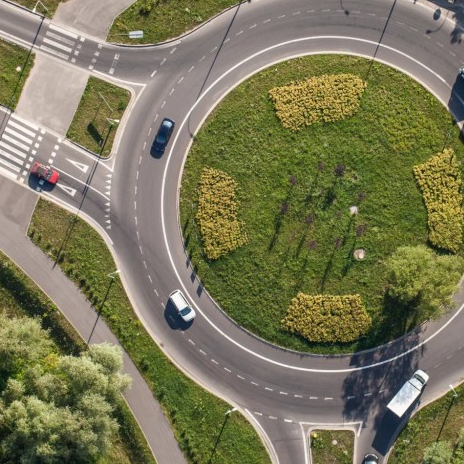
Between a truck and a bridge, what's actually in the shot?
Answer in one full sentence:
The one in the frame is a truck.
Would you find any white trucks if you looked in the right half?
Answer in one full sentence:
Yes, a white truck shows up in the right half.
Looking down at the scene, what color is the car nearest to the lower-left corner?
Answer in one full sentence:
The car nearest to the lower-left corner looks white in the image.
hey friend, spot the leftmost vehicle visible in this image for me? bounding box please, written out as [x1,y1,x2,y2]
[30,163,59,183]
